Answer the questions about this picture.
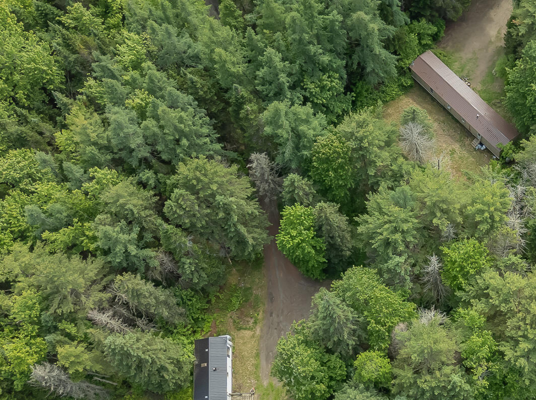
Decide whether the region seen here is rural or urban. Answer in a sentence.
The land in this view is best described as rural.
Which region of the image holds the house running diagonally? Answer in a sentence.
The house running diagonally appears toward the top right of the photo.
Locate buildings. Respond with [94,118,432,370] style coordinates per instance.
[409,50,521,158]
[193,337,233,400]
